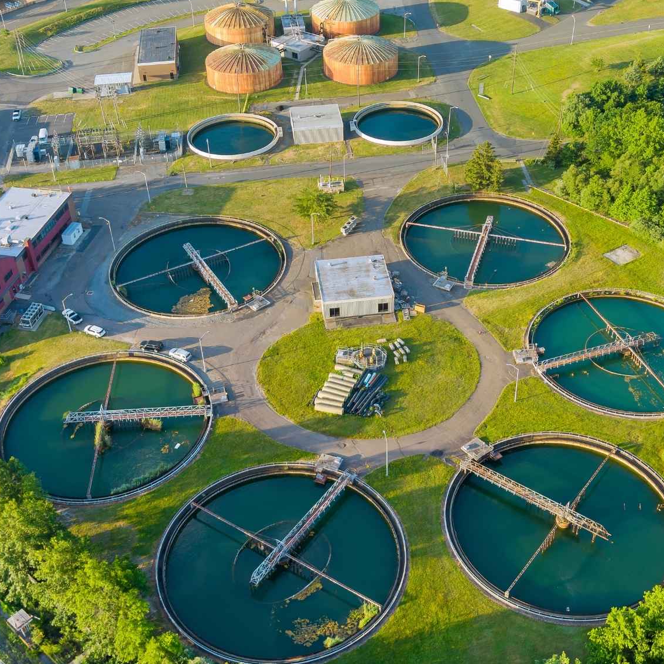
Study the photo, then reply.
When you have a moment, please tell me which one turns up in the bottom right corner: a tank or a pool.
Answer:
tank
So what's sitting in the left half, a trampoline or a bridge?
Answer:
bridge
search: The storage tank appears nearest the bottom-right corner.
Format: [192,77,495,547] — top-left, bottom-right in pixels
[443,428,664,627]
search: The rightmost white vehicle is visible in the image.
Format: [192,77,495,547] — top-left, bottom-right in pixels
[167,345,192,360]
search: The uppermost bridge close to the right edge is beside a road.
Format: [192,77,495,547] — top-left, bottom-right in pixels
[528,331,657,380]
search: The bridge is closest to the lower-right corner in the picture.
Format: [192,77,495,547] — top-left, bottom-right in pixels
[458,454,605,541]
